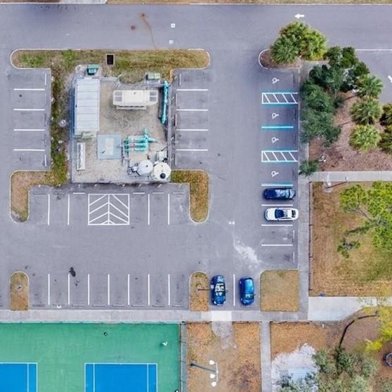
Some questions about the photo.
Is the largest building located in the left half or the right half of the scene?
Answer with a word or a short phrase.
left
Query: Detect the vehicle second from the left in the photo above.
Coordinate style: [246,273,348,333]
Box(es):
[239,278,255,305]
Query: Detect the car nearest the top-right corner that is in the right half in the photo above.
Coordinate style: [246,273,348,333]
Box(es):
[262,187,294,202]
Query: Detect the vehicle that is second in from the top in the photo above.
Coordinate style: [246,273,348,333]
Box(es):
[264,206,298,222]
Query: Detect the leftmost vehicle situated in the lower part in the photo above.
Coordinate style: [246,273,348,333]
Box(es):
[211,276,226,306]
